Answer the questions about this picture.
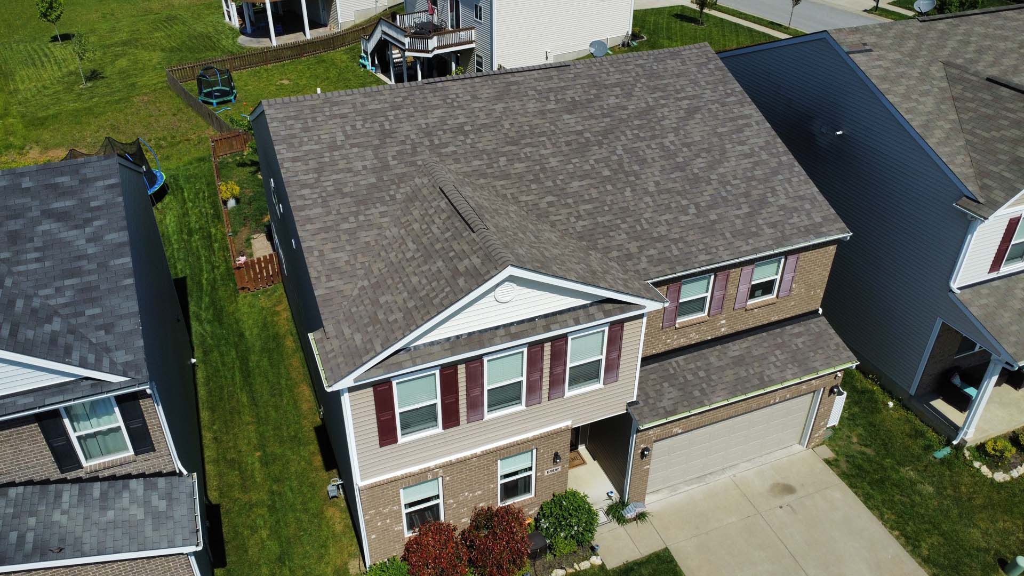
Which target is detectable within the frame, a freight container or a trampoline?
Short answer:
trampoline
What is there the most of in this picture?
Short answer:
buildings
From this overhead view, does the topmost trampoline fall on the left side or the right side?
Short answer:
left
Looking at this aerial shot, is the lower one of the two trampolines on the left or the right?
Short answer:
left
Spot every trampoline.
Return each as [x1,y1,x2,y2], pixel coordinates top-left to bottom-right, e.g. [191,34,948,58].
[193,66,237,107]
[59,128,170,211]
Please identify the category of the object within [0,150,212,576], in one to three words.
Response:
house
